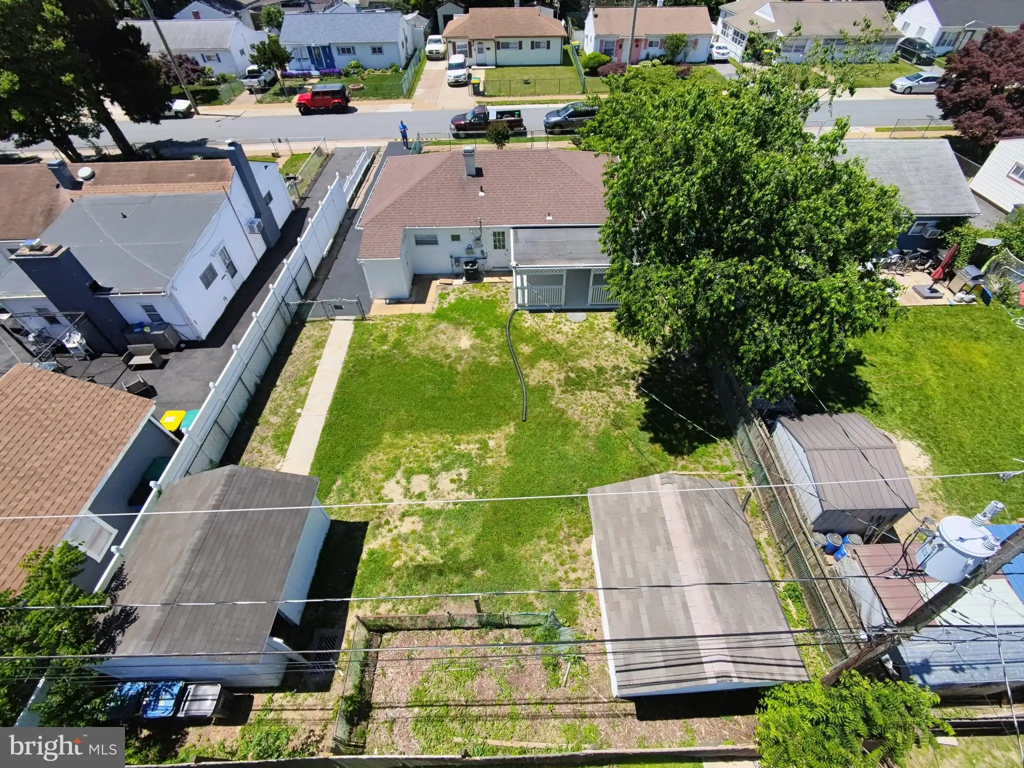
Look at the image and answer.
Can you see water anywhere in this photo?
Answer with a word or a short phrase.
No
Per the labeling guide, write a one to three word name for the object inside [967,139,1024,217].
house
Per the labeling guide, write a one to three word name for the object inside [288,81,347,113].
car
